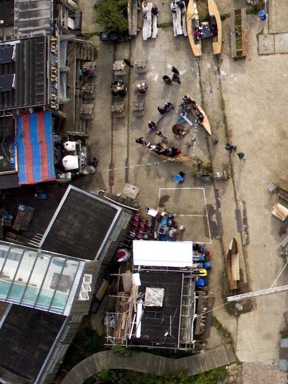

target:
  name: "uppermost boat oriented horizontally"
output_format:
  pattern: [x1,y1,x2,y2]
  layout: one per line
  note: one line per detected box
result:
[145,147,193,165]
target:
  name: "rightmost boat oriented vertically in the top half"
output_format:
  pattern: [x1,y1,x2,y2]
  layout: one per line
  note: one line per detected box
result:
[208,0,222,54]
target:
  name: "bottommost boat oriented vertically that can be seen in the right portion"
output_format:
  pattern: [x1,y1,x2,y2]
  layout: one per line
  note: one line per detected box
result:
[227,238,240,295]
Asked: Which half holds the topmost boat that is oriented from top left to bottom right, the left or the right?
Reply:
right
